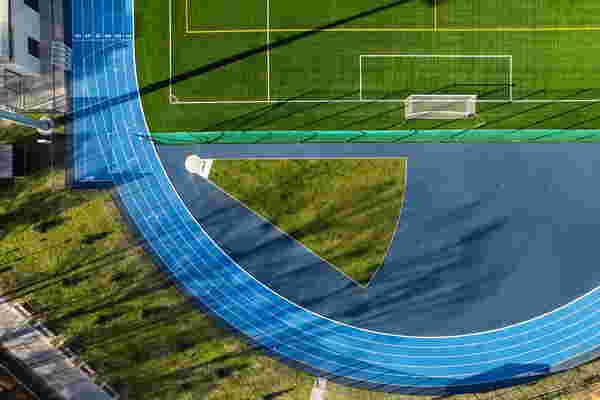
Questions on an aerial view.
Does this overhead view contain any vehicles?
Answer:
No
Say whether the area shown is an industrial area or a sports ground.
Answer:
sports ground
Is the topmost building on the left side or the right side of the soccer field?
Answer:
on its left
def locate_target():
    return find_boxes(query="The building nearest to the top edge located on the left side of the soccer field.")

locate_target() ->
[0,0,41,72]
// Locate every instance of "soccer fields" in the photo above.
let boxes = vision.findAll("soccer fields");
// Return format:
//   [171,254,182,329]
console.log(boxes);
[134,0,600,142]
